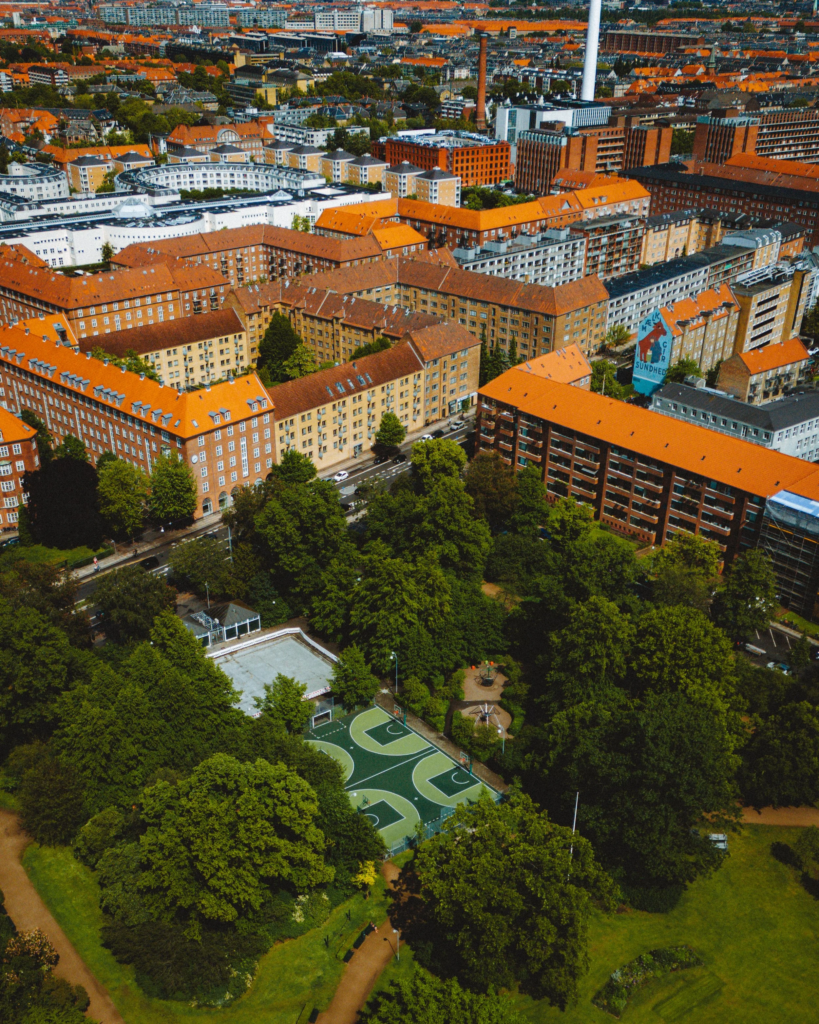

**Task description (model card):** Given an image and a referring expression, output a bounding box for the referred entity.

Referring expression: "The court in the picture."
[279,702,509,857]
